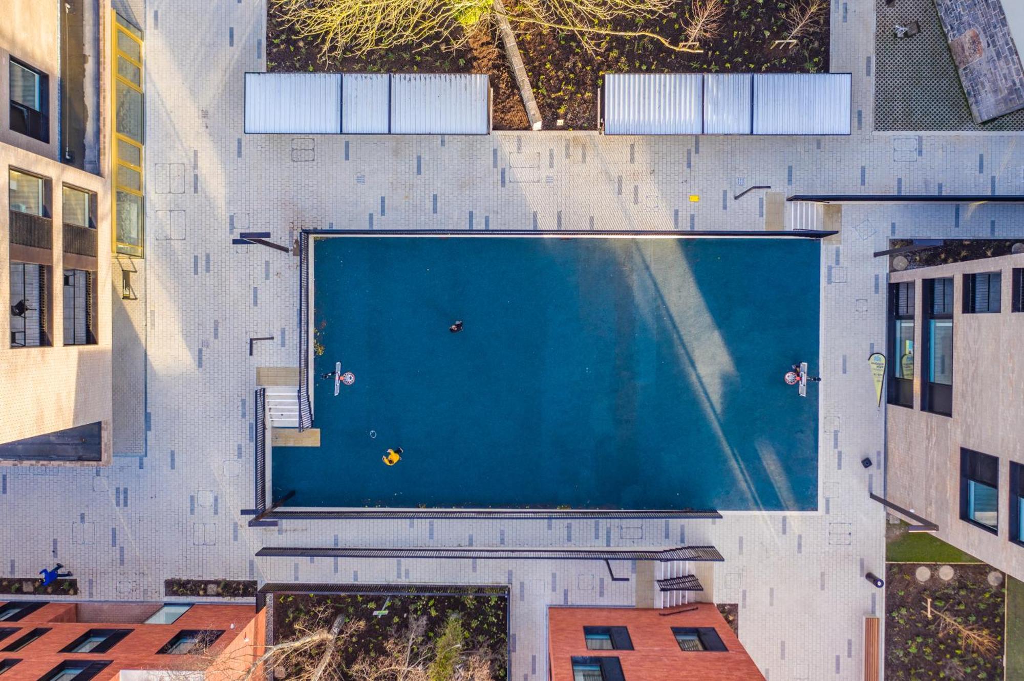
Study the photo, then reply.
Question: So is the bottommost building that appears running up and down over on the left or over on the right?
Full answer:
It is on the right.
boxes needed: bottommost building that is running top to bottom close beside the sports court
[886,251,1024,582]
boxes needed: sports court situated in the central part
[272,238,820,511]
